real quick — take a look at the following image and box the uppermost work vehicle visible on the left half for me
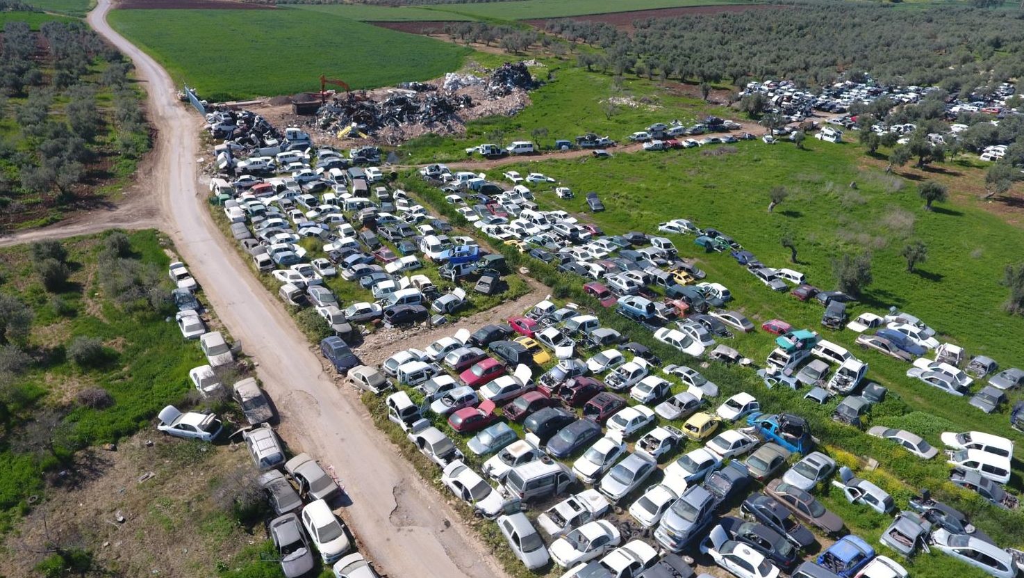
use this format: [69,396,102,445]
[318,71,363,101]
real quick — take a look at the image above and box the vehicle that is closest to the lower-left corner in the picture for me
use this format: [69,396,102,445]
[154,411,225,447]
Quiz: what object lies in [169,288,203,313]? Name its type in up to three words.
car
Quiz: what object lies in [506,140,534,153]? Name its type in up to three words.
vehicle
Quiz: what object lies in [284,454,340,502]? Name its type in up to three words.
car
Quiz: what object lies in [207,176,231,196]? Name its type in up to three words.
vehicle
